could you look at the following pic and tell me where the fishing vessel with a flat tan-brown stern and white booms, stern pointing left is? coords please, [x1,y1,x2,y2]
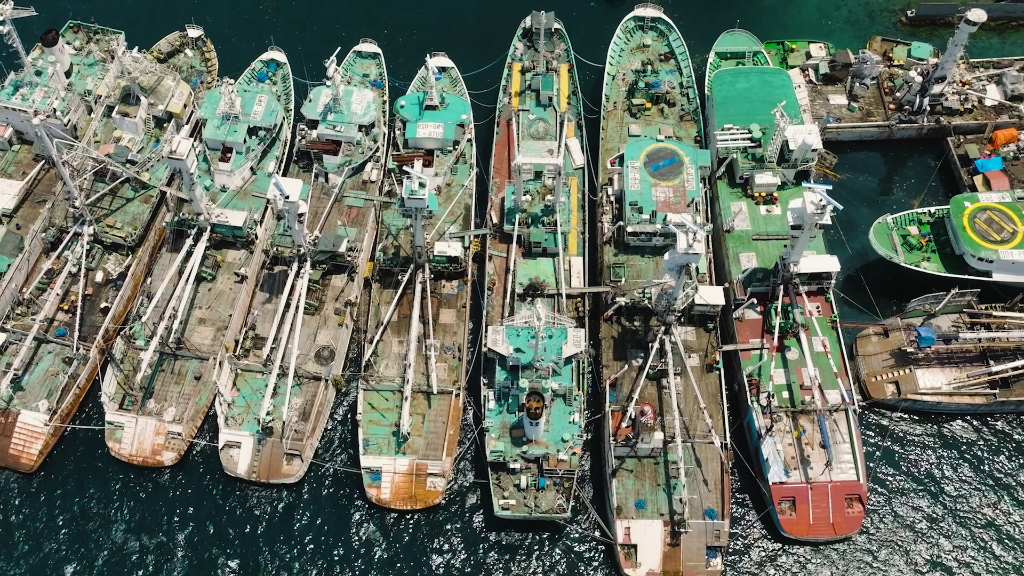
[850,287,1024,420]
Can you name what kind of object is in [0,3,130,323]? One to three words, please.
ship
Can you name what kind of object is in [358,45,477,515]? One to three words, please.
vessel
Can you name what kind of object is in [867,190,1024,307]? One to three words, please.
ship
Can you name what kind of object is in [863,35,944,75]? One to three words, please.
boat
